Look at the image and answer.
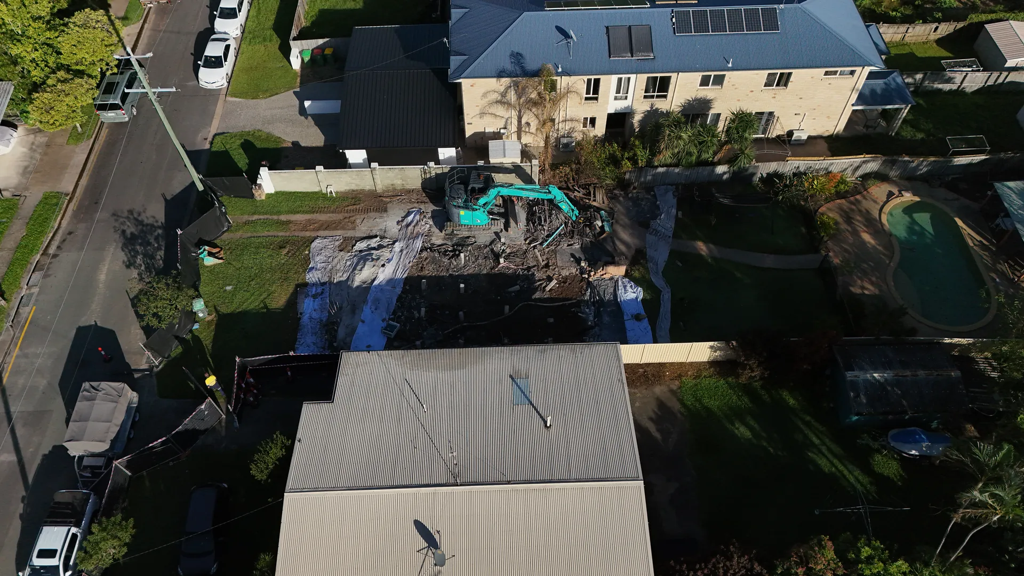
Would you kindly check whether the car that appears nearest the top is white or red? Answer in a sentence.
In this view, the car that appears nearest the top is white.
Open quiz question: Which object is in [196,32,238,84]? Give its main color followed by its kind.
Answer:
white car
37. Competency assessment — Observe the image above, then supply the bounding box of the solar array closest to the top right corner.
[670,5,781,34]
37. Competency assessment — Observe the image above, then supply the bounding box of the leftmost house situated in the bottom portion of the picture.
[273,341,657,576]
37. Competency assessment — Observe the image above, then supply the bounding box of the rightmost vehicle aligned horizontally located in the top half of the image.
[445,168,617,238]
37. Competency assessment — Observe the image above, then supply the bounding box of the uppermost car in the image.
[213,0,252,36]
